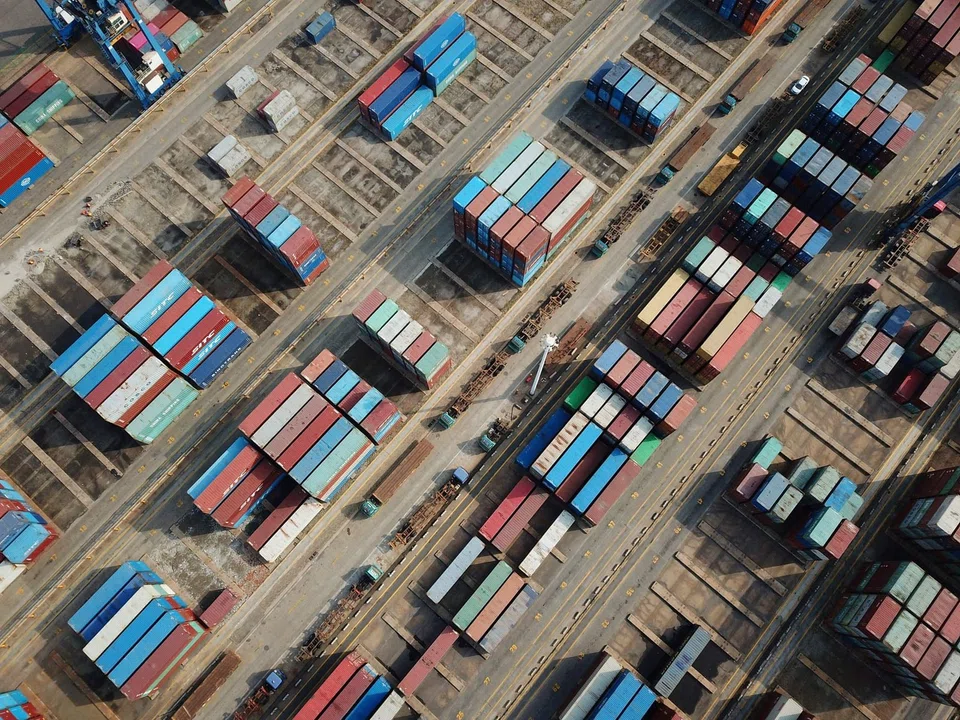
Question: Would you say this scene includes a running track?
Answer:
No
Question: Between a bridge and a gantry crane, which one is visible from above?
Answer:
gantry crane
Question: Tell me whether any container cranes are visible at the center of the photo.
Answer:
No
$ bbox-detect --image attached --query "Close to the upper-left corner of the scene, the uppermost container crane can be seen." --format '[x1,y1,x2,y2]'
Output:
[32,0,185,110]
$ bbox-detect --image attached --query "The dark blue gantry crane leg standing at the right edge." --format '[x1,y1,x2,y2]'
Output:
[884,156,960,236]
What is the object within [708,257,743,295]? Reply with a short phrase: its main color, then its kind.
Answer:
white shipping container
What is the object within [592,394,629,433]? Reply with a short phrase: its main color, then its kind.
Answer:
white shipping container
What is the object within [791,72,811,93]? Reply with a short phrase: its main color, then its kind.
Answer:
white car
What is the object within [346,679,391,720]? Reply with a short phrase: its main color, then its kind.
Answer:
blue shipping container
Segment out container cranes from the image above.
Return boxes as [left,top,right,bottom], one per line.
[884,156,960,236]
[32,0,185,110]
